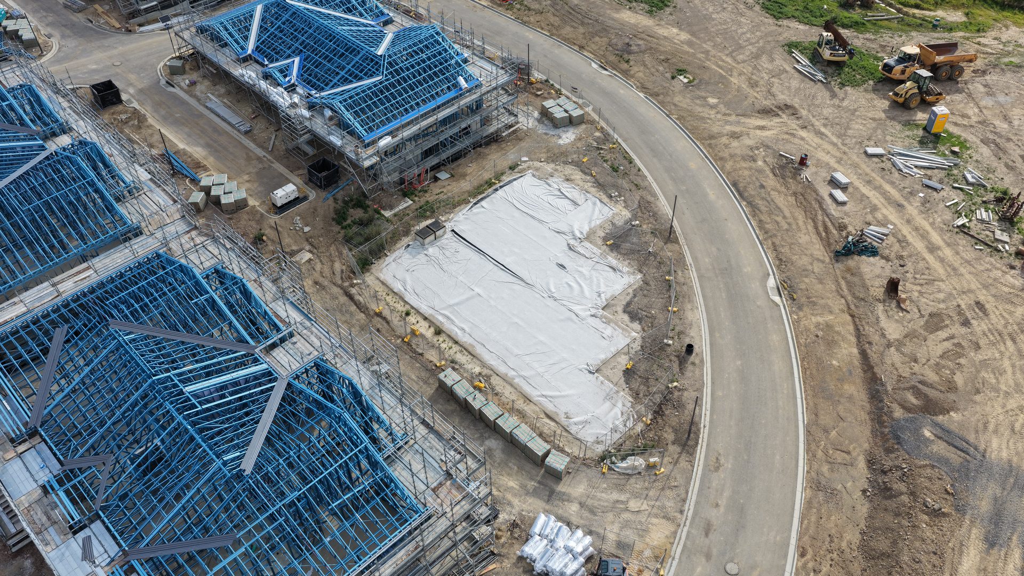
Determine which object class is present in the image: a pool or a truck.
truck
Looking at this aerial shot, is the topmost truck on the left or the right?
right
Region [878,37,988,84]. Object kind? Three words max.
truck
